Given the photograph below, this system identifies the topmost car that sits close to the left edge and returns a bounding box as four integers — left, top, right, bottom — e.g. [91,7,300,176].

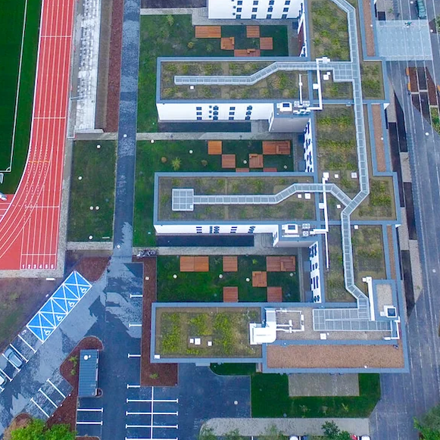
[5,349,25,370]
